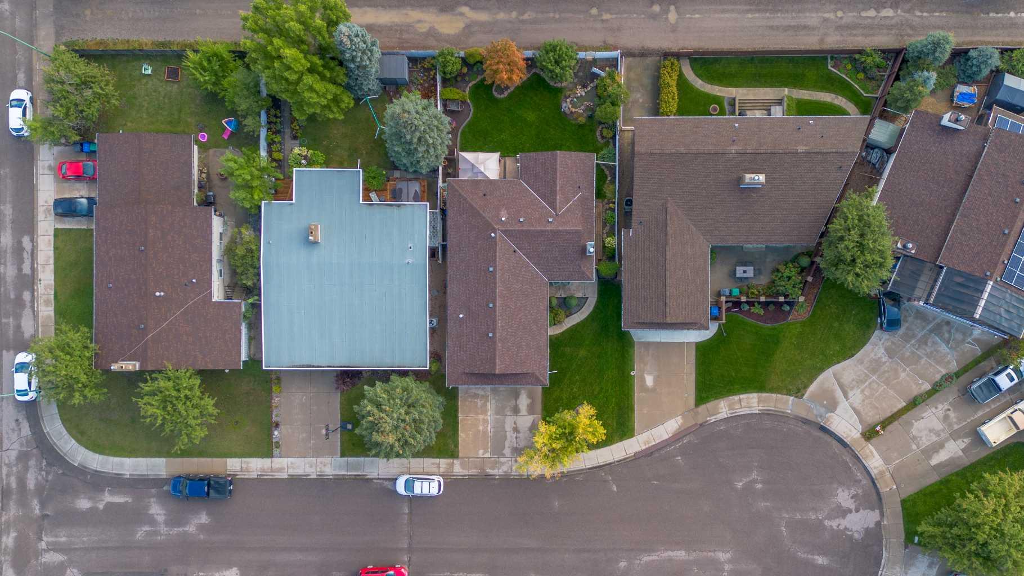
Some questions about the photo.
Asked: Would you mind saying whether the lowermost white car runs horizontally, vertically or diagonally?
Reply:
horizontally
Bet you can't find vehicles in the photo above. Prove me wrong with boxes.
[50,156,96,179]
[966,359,1024,406]
[6,352,35,402]
[877,285,904,333]
[395,476,443,501]
[2,89,31,136]
[46,193,96,217]
[168,478,230,504]
[981,402,1024,447]
[358,565,407,576]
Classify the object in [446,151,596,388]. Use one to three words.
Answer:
house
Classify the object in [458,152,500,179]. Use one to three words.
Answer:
tent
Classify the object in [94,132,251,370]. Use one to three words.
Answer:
house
